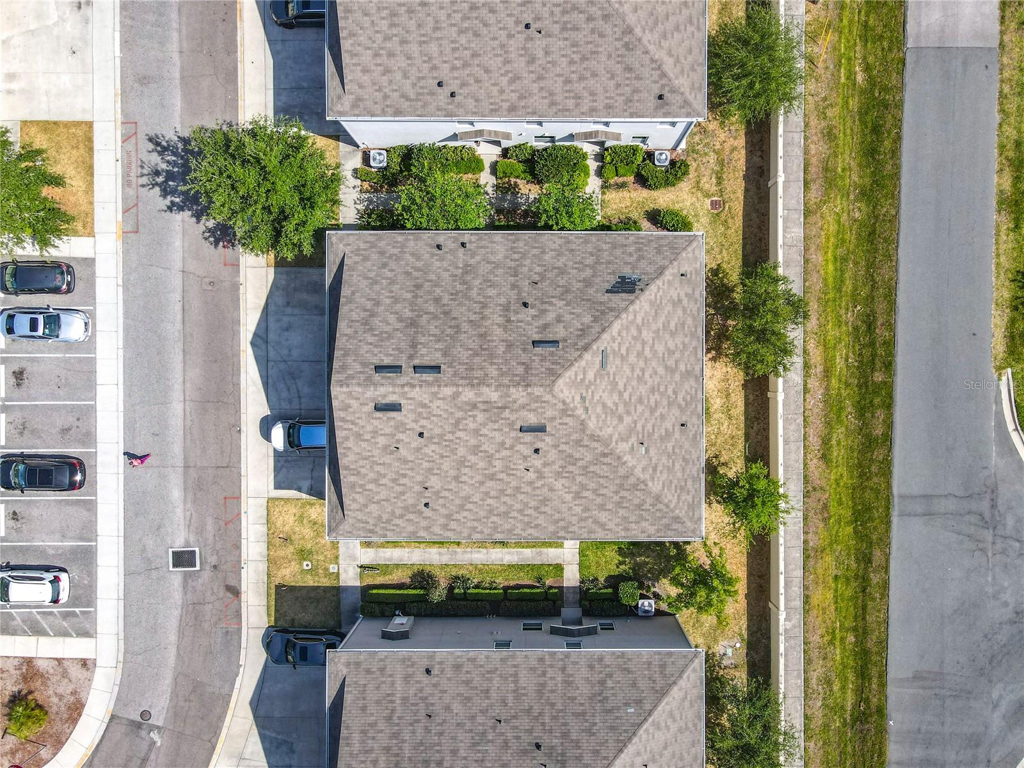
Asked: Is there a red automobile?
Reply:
No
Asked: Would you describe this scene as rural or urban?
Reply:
urban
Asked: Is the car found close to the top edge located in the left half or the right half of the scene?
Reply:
left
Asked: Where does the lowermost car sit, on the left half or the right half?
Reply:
left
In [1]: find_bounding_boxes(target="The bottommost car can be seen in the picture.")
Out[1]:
[266,628,347,668]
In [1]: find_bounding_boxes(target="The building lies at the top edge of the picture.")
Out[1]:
[327,0,706,155]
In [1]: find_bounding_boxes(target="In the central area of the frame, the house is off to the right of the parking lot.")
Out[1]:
[327,232,704,541]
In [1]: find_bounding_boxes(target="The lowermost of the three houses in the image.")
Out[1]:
[327,608,704,768]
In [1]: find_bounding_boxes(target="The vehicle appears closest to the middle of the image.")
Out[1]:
[272,417,327,454]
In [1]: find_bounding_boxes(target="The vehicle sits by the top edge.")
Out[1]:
[271,0,327,27]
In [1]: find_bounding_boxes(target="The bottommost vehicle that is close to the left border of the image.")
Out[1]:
[0,568,70,609]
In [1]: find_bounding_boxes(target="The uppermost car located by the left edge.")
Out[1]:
[0,259,75,298]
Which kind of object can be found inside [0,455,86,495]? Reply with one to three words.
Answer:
car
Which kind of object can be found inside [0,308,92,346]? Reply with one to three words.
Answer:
car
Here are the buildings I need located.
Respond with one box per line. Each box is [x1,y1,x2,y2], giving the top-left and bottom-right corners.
[327,0,706,155]
[327,608,704,768]
[327,232,704,541]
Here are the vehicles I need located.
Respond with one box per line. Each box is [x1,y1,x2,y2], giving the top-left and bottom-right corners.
[0,259,75,298]
[272,417,327,454]
[271,0,327,27]
[0,455,86,495]
[0,568,70,609]
[266,628,347,668]
[0,308,92,346]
